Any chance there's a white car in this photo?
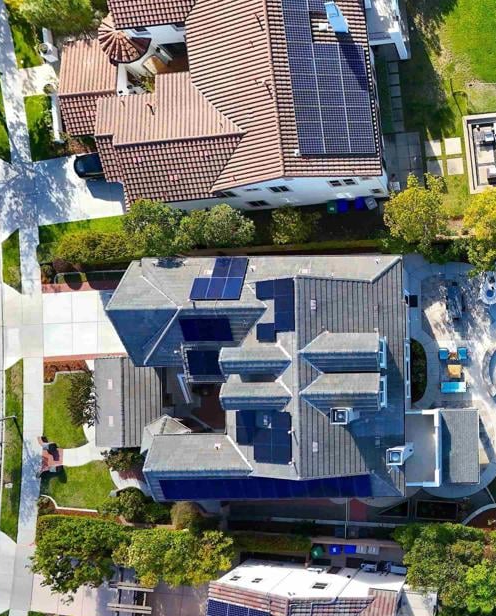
No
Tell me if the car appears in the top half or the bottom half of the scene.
top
